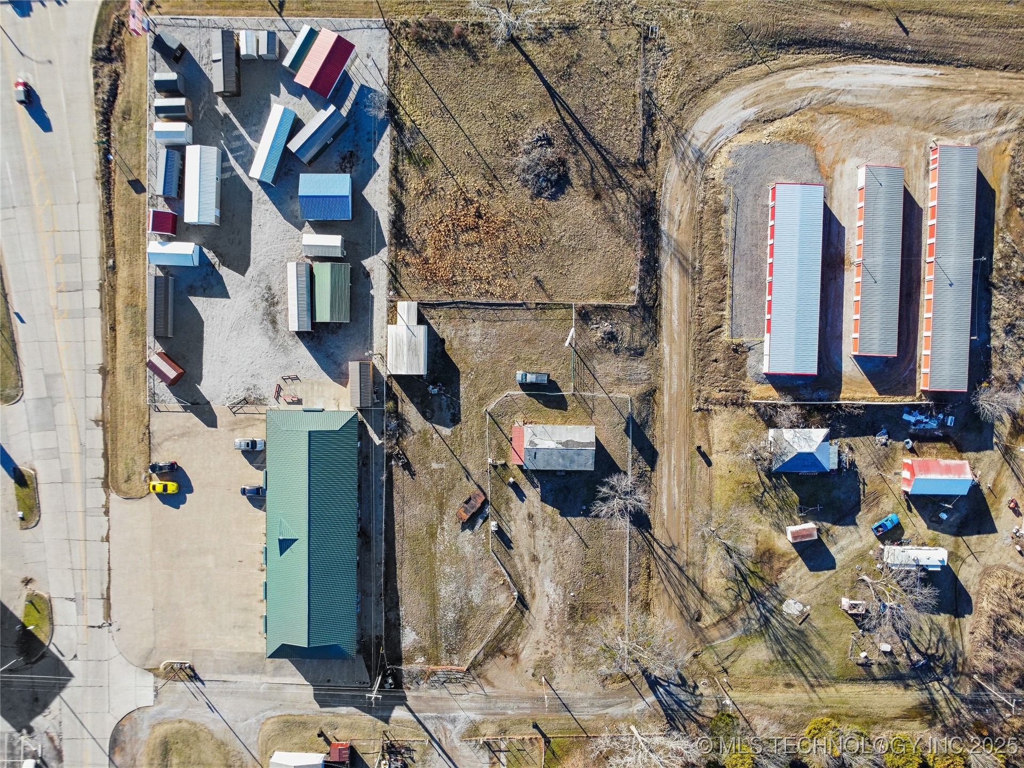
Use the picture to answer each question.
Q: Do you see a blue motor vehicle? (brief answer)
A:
Yes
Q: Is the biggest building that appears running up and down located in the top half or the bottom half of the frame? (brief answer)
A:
bottom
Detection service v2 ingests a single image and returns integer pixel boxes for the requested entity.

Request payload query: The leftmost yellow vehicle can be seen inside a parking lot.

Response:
[147,480,178,494]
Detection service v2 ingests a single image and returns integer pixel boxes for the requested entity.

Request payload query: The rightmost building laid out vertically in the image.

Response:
[916,145,978,391]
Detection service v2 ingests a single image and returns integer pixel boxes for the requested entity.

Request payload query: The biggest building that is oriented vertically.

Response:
[263,407,358,659]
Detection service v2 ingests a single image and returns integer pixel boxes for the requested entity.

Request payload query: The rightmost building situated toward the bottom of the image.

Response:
[897,458,977,495]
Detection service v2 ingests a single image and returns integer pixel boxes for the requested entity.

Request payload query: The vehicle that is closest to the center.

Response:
[516,371,549,384]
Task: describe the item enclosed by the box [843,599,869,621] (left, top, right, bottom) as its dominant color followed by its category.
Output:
white truck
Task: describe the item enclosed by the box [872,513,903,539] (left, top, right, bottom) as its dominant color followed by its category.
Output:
blue truck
